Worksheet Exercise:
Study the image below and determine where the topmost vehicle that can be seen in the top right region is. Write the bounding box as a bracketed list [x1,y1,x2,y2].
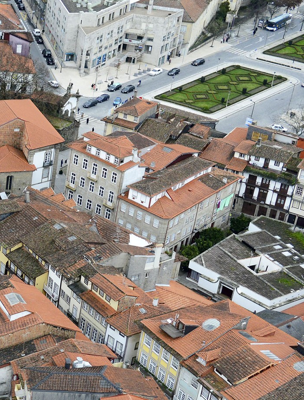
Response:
[266,12,294,32]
